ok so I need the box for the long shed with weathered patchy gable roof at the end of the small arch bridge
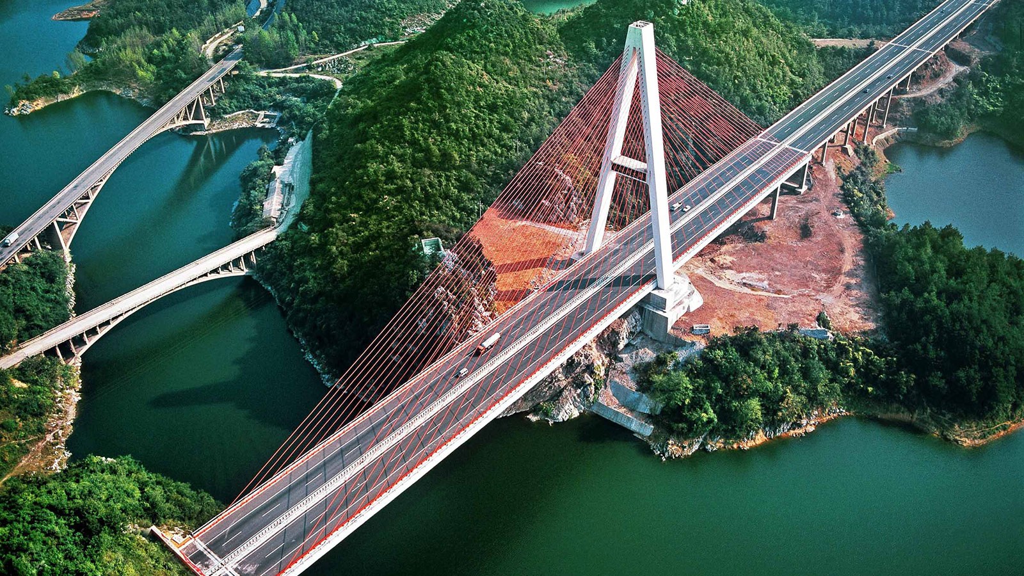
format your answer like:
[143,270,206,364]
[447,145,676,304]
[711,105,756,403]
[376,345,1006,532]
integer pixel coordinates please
[260,180,286,229]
